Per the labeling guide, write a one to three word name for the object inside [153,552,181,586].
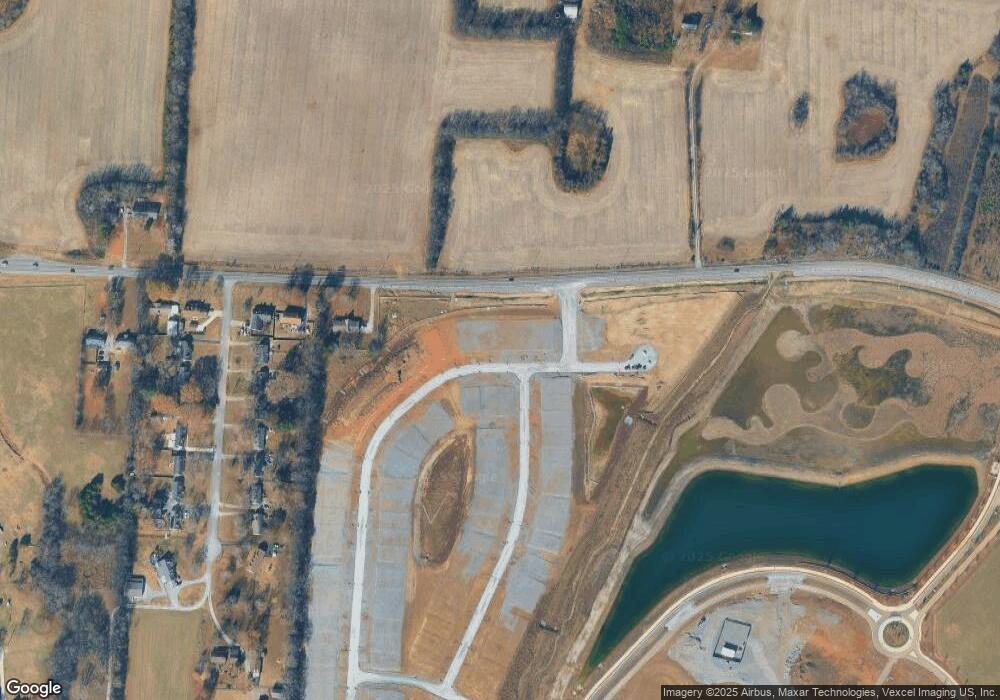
house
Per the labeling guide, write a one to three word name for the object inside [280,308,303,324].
house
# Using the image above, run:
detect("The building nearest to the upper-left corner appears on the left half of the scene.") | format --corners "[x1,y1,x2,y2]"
[132,204,159,221]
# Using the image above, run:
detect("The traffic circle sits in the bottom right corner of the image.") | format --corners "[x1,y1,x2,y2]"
[868,609,920,657]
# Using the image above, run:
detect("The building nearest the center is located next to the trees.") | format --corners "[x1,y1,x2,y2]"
[333,318,361,333]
